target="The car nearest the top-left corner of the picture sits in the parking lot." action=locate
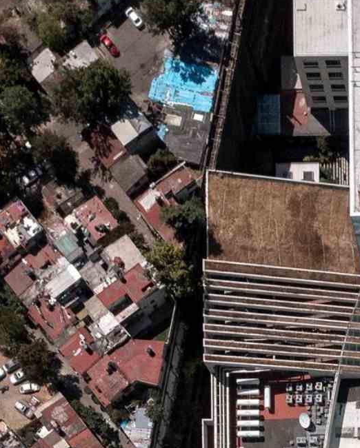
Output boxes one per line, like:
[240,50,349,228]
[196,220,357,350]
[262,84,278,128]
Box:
[100,33,120,57]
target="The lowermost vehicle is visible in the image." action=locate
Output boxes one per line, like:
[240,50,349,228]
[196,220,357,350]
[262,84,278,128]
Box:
[14,398,34,416]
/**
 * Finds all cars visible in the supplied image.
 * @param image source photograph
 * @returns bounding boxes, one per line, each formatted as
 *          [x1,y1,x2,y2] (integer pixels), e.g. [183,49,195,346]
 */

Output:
[0,358,21,375]
[100,33,120,57]
[14,398,34,416]
[18,381,43,395]
[8,370,30,389]
[124,6,143,30]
